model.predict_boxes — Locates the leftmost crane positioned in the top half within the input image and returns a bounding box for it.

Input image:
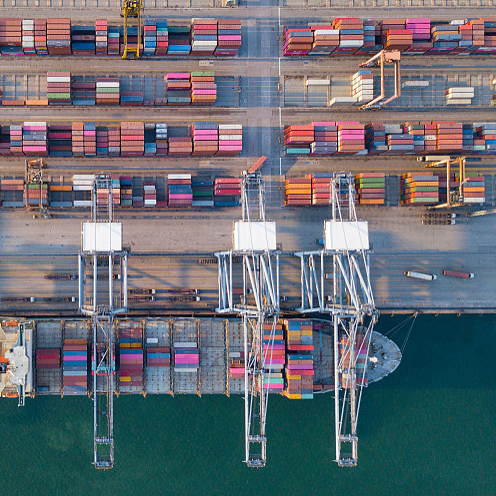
[23,155,50,212]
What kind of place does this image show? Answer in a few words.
port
